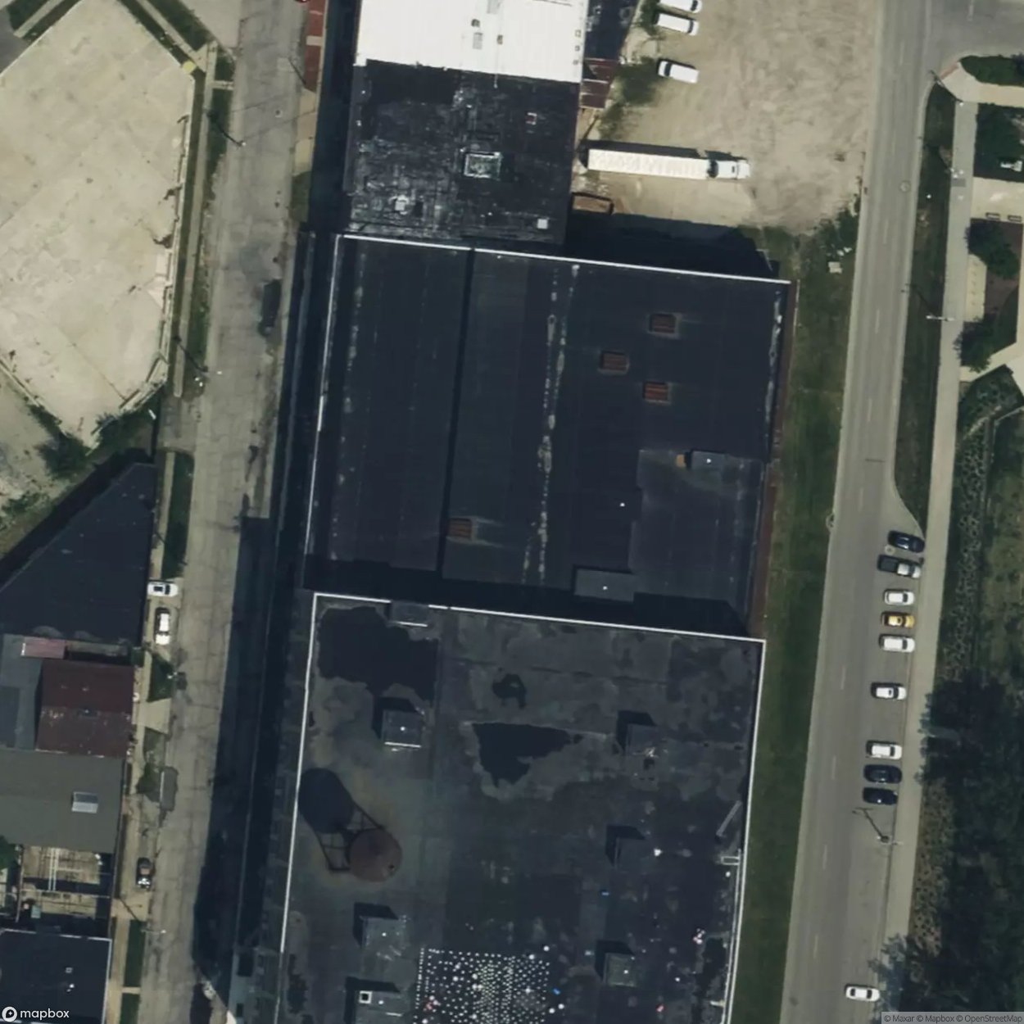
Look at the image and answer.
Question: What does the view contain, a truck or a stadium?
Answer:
truck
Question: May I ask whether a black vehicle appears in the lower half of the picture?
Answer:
Yes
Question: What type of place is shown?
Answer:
industrial area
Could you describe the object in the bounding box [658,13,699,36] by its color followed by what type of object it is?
white vehicle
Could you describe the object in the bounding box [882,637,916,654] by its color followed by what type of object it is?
white car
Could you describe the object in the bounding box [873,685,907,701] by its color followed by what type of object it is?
white car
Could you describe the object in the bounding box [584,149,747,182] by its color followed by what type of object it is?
white truck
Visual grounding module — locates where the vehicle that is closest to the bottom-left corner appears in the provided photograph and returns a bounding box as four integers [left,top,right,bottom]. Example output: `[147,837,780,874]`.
[137,857,154,890]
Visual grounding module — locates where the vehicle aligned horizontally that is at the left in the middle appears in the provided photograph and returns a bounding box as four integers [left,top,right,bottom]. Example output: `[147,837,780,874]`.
[147,582,180,598]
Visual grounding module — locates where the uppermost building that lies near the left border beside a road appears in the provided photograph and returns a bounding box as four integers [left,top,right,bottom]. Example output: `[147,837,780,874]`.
[0,462,156,644]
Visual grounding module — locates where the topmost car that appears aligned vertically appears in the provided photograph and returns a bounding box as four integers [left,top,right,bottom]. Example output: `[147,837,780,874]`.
[154,609,171,645]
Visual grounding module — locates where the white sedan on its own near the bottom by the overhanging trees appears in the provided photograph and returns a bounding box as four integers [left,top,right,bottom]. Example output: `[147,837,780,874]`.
[847,987,880,1003]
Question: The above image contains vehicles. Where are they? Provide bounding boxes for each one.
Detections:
[889,531,925,551]
[147,582,180,598]
[584,149,747,182]
[882,637,916,654]
[659,0,702,16]
[880,556,924,578]
[882,614,914,630]
[869,743,903,759]
[866,766,902,784]
[884,591,916,607]
[137,857,154,890]
[847,987,880,1003]
[873,685,907,701]
[658,13,699,36]
[658,60,700,83]
[864,789,898,806]
[154,609,171,645]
